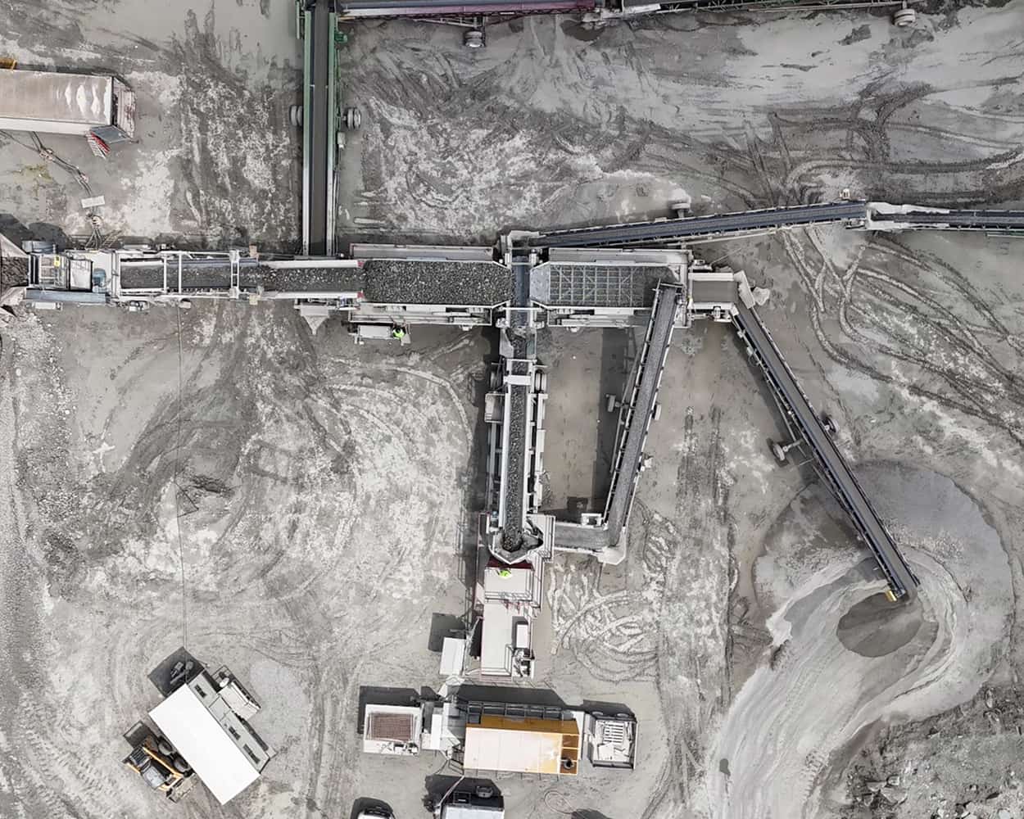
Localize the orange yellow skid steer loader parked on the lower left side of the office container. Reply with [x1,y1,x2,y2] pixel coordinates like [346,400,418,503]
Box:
[122,742,200,803]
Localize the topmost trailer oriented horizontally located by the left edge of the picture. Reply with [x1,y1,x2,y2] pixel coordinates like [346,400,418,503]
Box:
[0,71,139,140]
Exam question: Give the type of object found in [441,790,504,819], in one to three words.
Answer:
van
